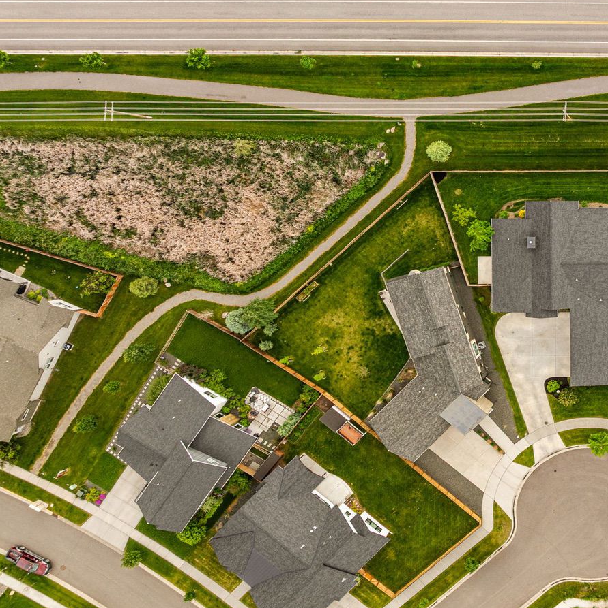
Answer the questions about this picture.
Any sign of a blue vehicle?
No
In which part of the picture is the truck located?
bottom left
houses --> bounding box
[492,201,608,386]
[210,456,395,608]
[369,266,493,463]
[0,267,91,441]
[116,373,258,532]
